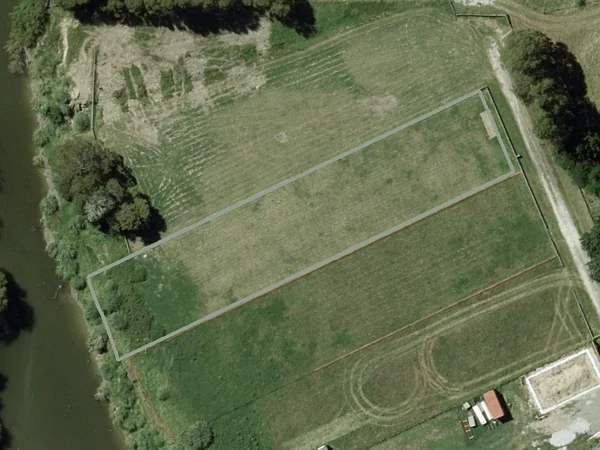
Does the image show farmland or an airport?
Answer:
farmland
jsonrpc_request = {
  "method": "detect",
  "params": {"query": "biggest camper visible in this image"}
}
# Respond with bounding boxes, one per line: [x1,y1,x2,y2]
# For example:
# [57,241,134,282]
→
[473,403,486,425]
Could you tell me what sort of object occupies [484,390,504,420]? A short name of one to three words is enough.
shed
